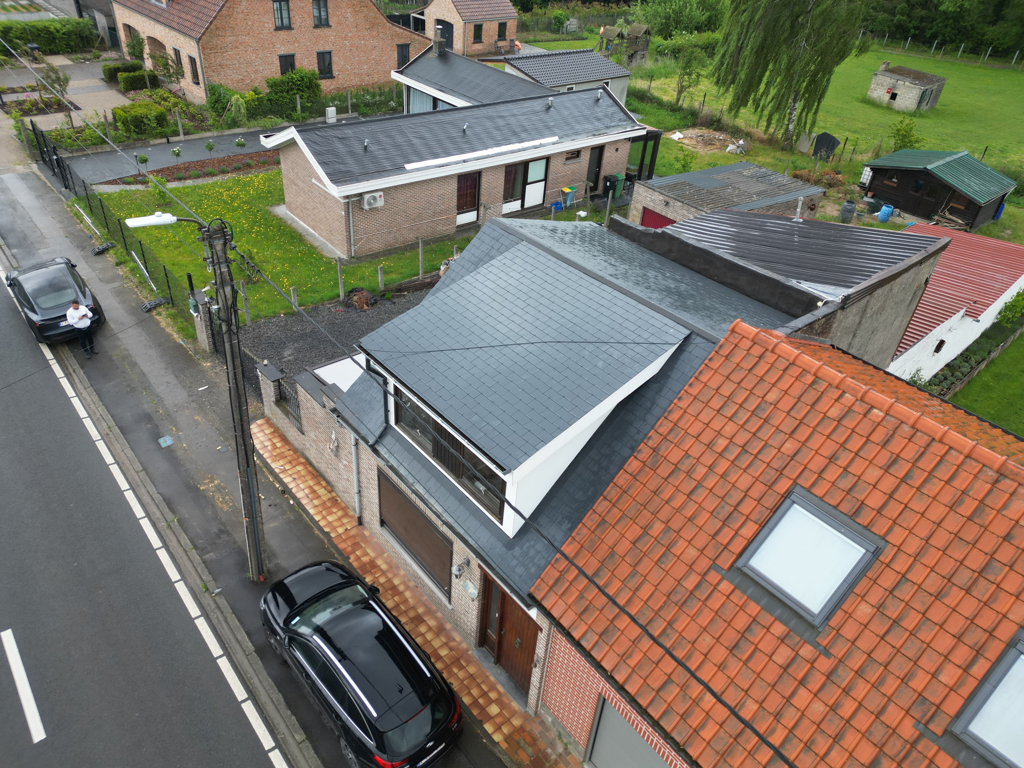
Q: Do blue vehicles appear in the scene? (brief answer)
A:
No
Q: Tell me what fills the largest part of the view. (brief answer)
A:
buildings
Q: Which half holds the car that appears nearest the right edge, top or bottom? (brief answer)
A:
bottom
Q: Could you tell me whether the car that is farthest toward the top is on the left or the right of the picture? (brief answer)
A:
left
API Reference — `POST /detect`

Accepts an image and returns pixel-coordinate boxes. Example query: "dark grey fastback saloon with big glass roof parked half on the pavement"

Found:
[0,259,102,338]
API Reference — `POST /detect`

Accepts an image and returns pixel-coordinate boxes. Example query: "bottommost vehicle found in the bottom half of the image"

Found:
[258,563,466,768]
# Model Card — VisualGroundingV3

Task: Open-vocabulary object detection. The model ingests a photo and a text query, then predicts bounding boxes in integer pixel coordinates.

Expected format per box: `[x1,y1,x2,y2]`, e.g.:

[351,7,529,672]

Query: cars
[258,563,466,768]
[0,259,102,338]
